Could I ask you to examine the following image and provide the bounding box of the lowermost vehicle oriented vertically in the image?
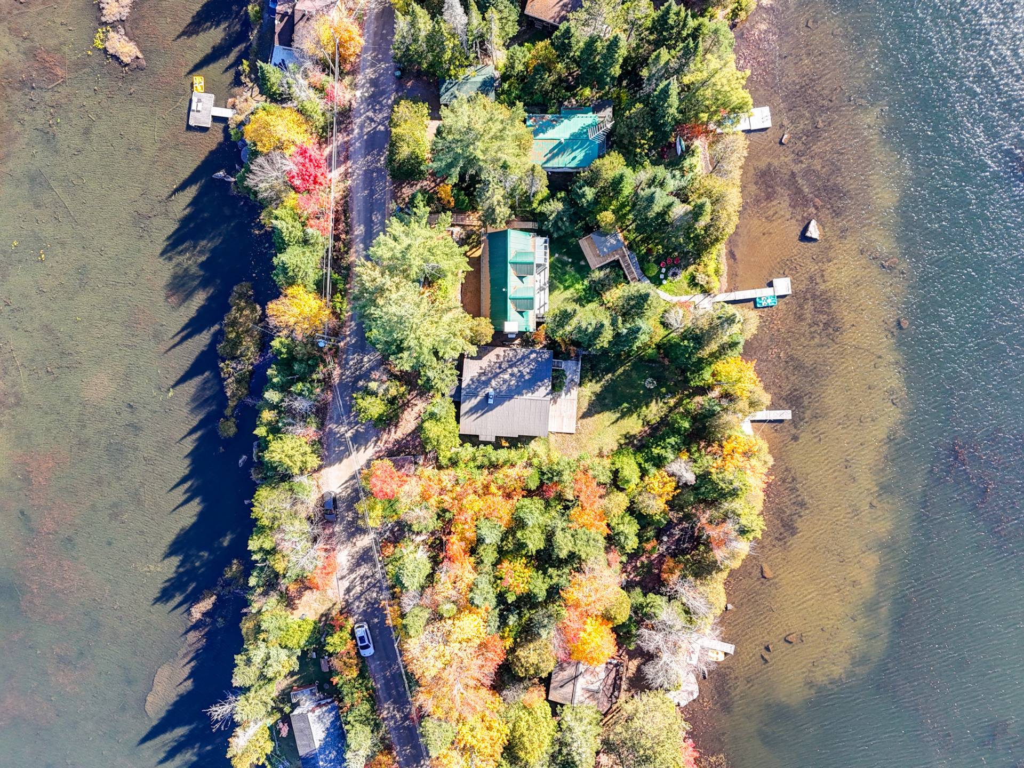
[354,623,373,658]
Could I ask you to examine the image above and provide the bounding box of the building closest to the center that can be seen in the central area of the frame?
[451,348,582,442]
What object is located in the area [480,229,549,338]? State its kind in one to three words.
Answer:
house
